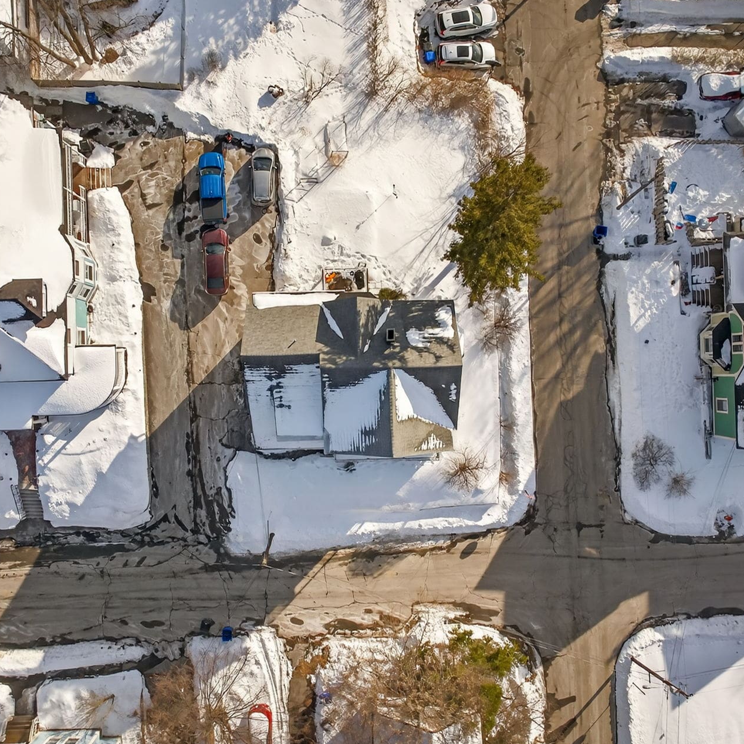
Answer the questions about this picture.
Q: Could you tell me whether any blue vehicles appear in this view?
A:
Yes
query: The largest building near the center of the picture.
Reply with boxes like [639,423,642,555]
[241,290,464,462]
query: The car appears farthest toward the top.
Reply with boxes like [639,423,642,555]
[433,0,496,39]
